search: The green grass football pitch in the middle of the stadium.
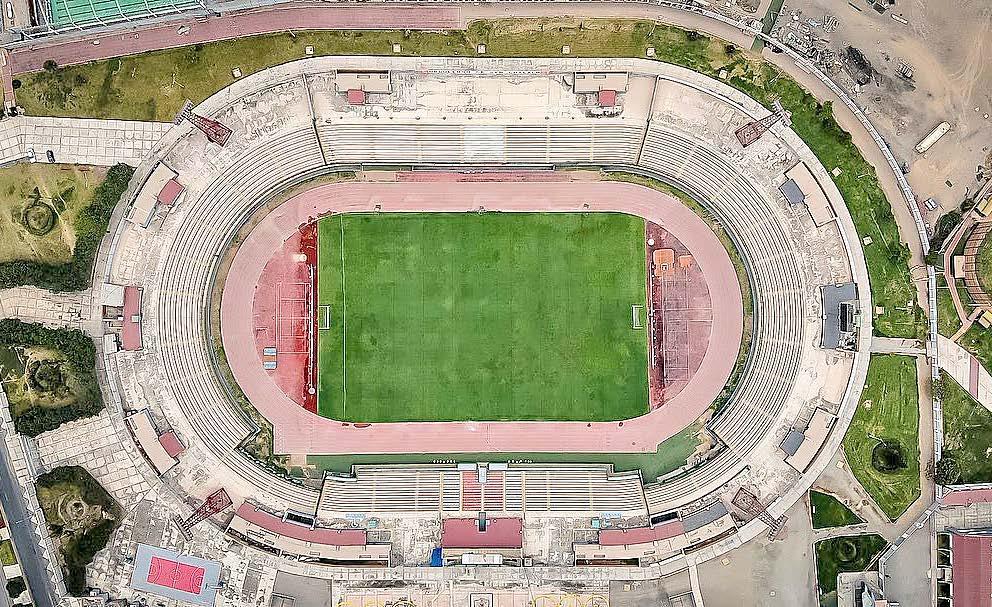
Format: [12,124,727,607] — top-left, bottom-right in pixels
[317,212,650,421]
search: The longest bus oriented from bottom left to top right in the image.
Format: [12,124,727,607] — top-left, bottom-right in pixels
[911,123,949,153]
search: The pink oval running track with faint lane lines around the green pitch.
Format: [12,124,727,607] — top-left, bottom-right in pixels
[224,182,742,455]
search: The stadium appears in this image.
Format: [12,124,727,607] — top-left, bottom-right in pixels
[90,55,874,584]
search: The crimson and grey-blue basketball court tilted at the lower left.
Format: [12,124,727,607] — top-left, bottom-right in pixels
[132,544,222,606]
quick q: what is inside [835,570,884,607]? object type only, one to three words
building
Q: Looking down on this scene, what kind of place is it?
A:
sports ground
